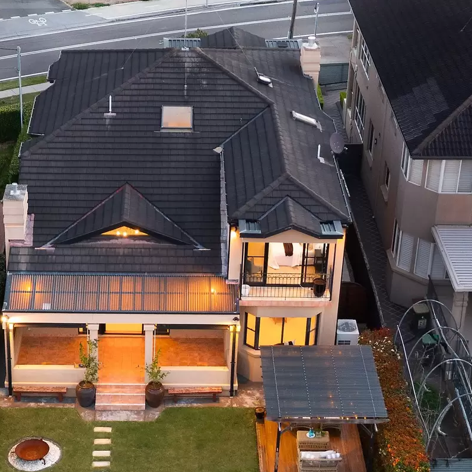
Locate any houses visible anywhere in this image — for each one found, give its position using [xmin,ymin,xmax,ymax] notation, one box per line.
[333,0,472,334]
[1,23,353,409]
